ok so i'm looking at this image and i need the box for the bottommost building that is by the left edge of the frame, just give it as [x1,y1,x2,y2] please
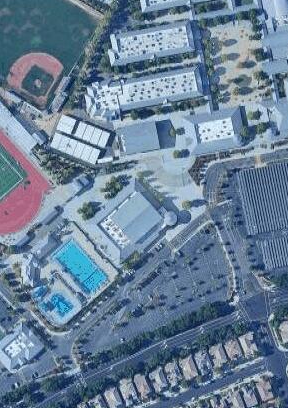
[0,323,45,373]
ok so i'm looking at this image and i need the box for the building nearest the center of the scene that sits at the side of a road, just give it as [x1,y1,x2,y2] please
[98,180,179,254]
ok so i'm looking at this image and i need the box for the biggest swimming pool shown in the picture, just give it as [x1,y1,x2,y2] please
[48,230,116,301]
